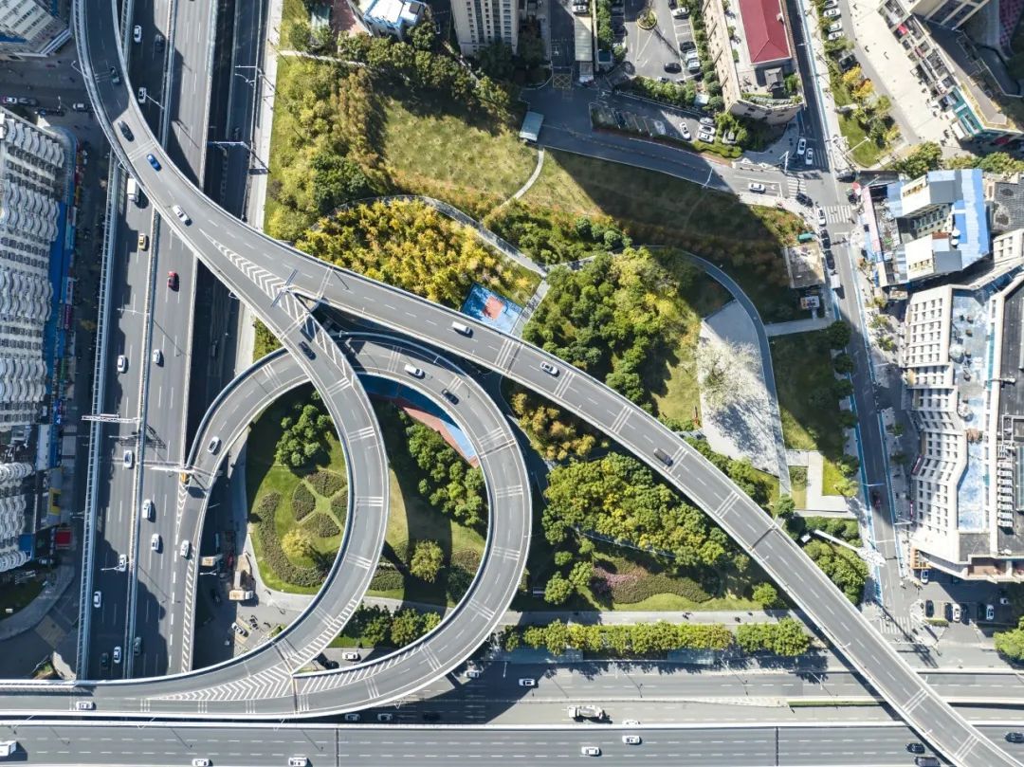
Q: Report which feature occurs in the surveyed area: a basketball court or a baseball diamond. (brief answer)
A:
basketball court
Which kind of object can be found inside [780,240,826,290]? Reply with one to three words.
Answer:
shed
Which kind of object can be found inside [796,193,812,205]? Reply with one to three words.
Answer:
vehicle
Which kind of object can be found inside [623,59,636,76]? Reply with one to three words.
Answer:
vehicle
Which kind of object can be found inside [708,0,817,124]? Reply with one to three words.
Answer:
building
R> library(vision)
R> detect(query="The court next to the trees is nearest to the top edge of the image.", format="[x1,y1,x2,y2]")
[459,285,522,337]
